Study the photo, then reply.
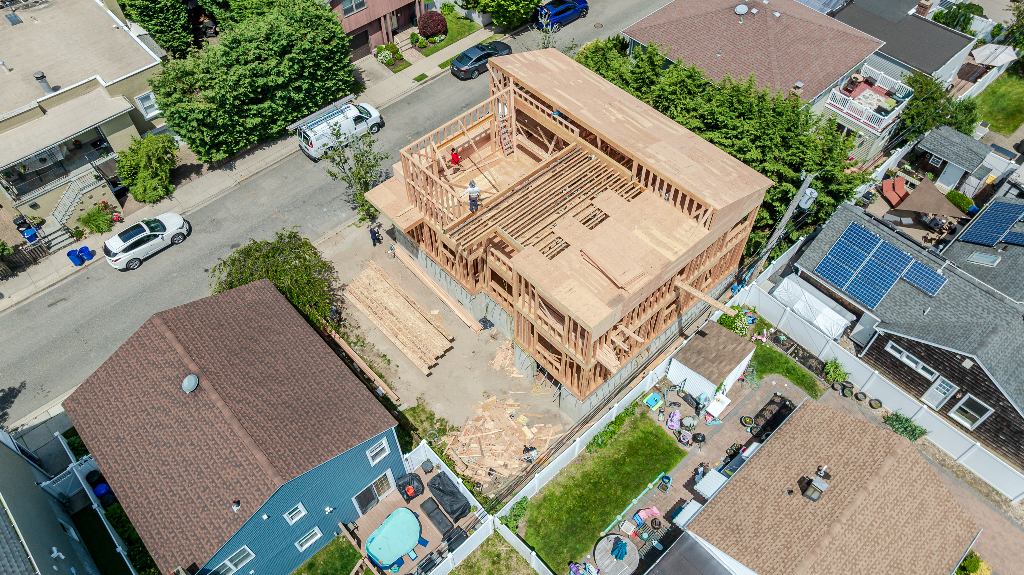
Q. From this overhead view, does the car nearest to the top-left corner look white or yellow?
white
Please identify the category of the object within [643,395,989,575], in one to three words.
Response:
house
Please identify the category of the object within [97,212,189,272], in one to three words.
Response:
car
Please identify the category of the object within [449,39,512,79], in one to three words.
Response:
car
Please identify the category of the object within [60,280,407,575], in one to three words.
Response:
house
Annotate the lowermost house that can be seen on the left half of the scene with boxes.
[0,446,102,575]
